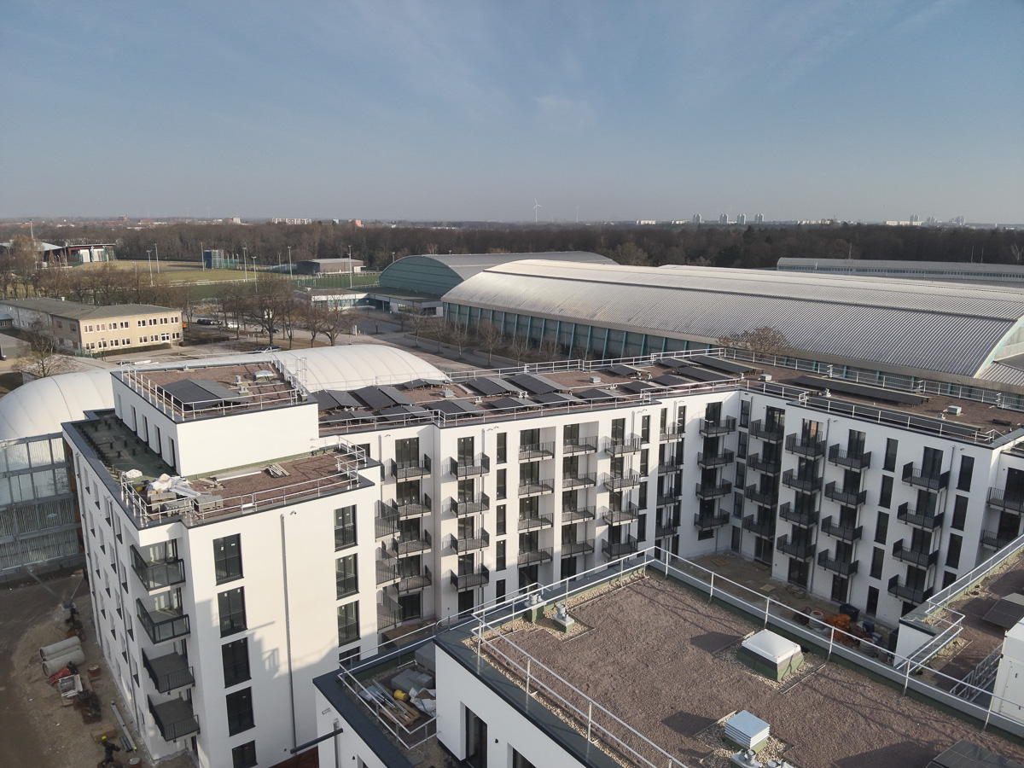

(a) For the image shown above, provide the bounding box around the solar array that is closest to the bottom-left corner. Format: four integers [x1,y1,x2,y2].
[160,379,253,413]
